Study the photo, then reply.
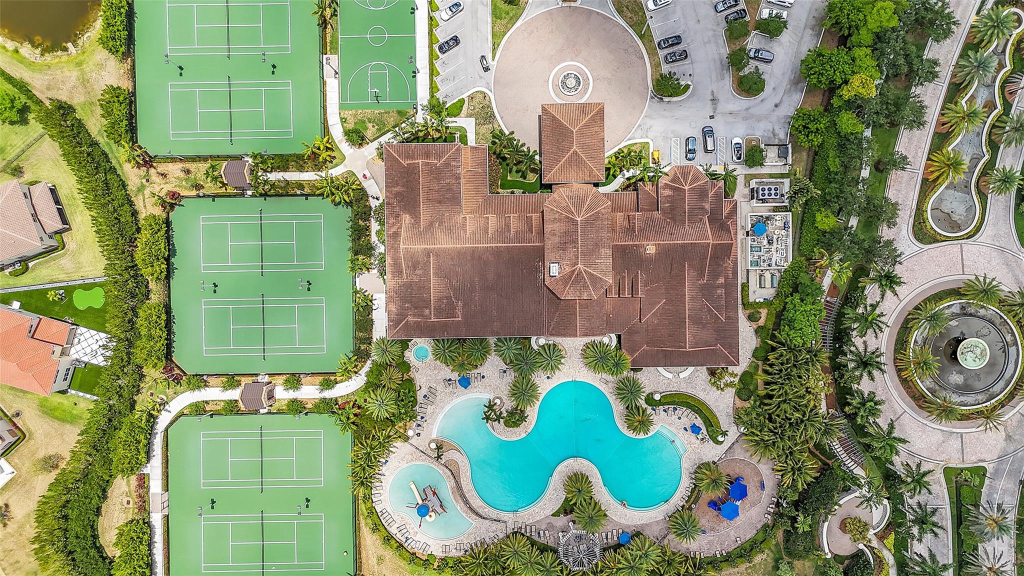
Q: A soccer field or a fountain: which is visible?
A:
fountain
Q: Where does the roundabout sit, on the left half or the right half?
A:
right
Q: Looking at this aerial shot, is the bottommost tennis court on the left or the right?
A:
left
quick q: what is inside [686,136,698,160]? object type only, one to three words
vehicle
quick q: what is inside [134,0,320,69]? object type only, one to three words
tennis court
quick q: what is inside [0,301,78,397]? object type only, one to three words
house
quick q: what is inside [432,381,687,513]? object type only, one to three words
swimming pool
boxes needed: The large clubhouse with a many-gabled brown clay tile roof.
[383,99,739,367]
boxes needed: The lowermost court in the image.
[169,499,355,576]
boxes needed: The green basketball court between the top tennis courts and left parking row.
[338,0,417,110]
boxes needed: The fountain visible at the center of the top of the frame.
[559,70,583,95]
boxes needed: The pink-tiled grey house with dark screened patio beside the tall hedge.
[0,179,75,269]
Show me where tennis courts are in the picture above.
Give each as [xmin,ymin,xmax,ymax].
[169,499,355,576]
[171,197,353,285]
[135,66,324,157]
[172,283,354,375]
[134,0,320,69]
[168,414,353,502]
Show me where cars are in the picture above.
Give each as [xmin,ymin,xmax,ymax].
[724,7,750,22]
[436,35,460,54]
[769,0,795,7]
[664,48,690,63]
[763,6,788,20]
[702,125,716,152]
[657,34,684,48]
[647,0,673,9]
[749,46,777,62]
[715,0,741,12]
[732,136,745,162]
[686,136,698,160]
[440,0,465,19]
